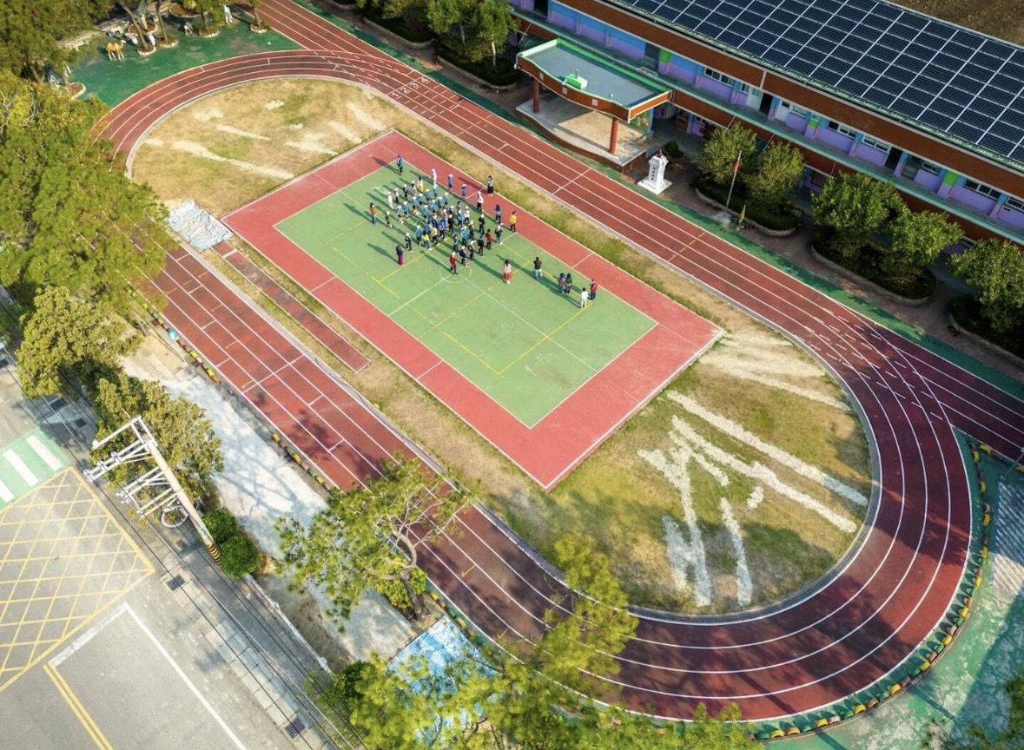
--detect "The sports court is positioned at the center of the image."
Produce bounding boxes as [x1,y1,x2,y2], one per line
[221,128,726,489]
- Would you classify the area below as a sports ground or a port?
sports ground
